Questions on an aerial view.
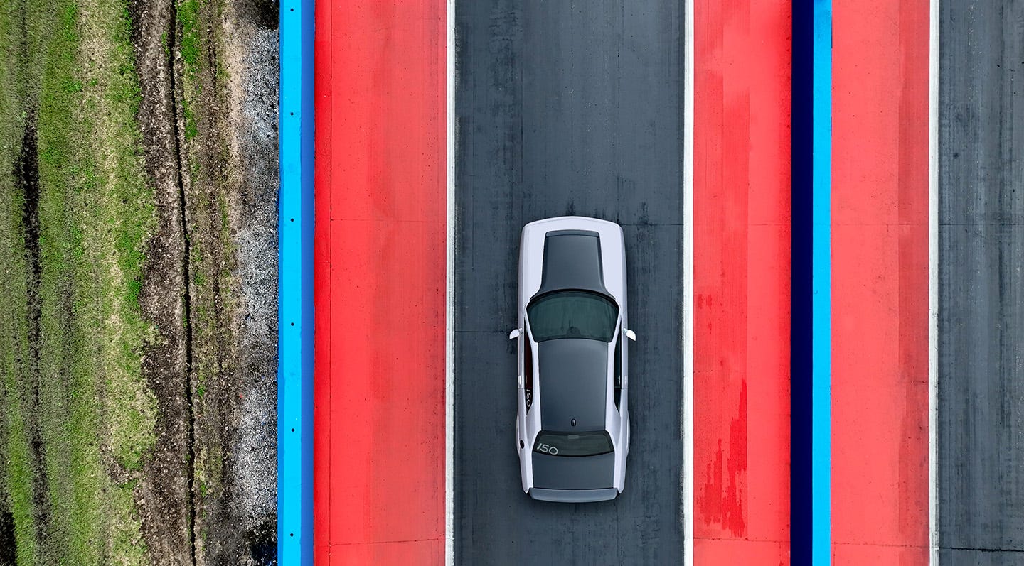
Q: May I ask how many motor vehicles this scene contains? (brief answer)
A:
1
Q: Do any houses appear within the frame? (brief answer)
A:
No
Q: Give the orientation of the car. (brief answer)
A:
vertically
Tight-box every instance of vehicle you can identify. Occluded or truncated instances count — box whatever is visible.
[509,216,638,503]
